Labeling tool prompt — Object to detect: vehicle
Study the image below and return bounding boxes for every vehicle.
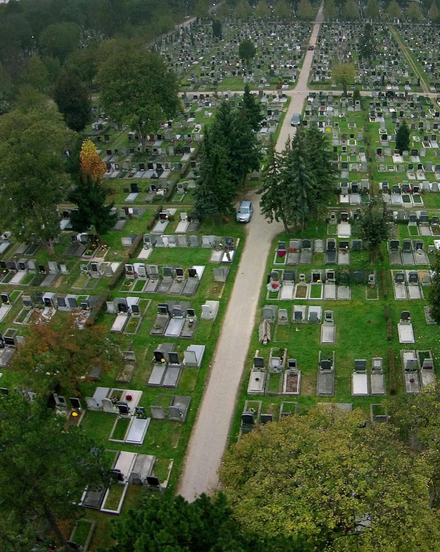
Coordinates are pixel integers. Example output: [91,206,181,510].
[288,109,301,122]
[235,195,254,219]
[307,44,314,50]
